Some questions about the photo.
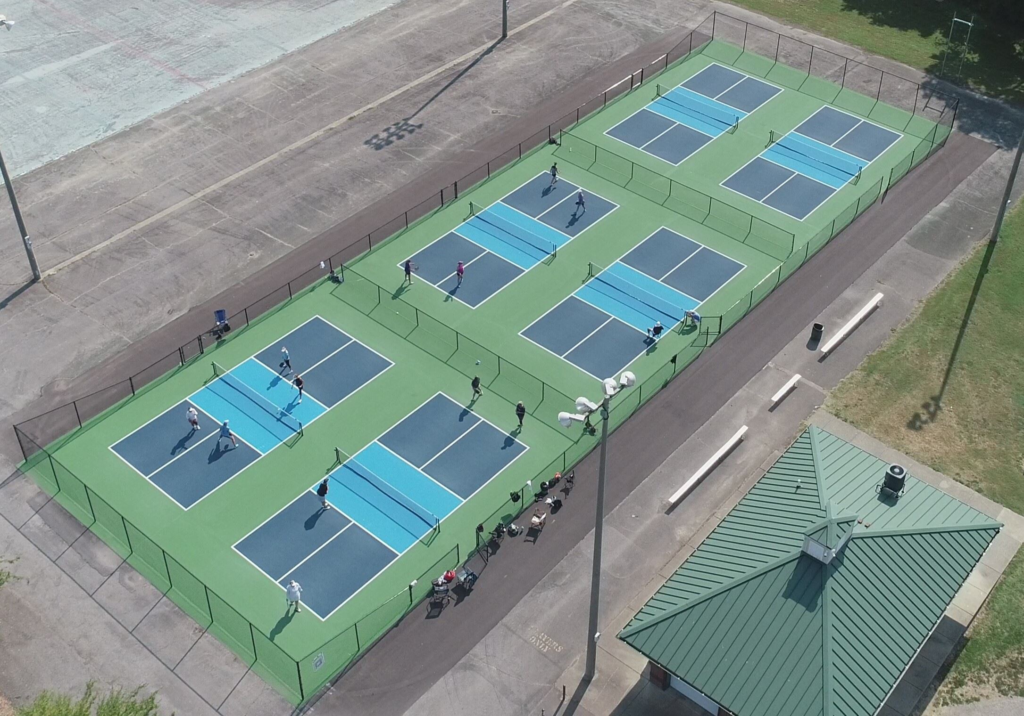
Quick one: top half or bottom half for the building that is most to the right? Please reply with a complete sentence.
You can find the building that is most to the right in the bottom half.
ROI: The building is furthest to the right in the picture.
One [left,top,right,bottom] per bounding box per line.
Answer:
[612,423,1010,716]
